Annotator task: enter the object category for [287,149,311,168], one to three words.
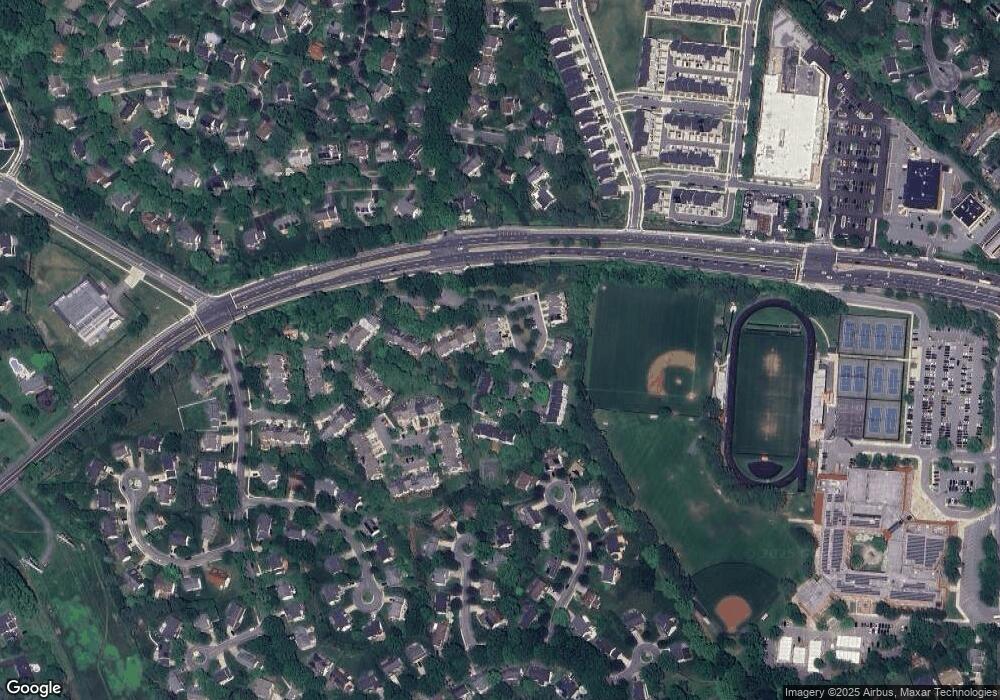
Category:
house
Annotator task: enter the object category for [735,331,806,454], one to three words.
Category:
soccer field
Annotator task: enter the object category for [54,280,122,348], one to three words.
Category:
building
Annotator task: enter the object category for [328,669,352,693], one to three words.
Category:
house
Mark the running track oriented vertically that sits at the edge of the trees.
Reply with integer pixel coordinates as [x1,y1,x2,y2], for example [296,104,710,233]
[725,296,816,491]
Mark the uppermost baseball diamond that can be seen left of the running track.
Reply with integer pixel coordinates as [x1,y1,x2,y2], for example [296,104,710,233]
[590,287,718,418]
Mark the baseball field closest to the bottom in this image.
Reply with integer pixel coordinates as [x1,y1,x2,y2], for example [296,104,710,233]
[691,562,780,638]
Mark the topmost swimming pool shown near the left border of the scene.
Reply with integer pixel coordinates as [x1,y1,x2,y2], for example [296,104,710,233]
[10,357,35,379]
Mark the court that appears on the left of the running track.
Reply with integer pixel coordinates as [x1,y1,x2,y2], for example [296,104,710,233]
[479,457,500,483]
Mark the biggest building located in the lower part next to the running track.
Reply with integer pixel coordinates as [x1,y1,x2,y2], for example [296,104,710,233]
[801,467,957,615]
